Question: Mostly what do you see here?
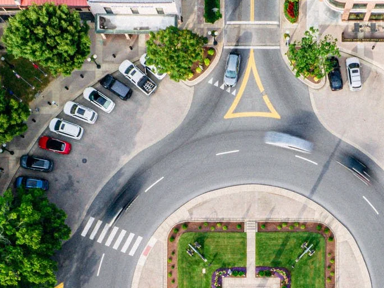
paved ground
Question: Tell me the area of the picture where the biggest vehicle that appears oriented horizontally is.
right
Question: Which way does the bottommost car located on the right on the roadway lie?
on a diagonal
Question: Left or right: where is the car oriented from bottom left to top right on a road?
left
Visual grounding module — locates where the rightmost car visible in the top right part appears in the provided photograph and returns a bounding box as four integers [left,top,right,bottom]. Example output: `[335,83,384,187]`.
[345,57,362,92]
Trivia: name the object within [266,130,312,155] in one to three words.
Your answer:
vehicle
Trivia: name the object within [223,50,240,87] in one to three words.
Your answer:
car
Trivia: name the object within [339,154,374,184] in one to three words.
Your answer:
car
